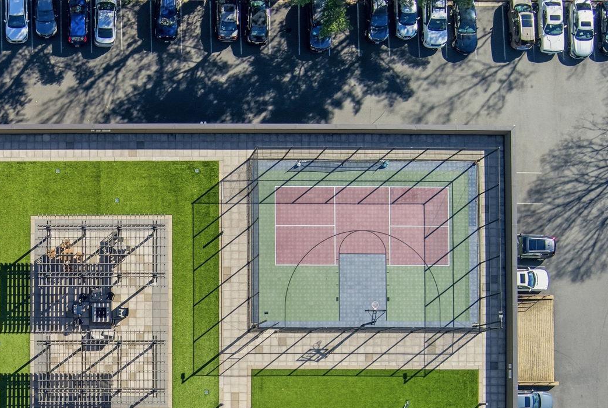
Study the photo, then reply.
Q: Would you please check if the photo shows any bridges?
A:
No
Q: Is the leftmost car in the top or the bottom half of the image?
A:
top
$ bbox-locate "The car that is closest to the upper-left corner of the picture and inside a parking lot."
[2,0,30,44]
